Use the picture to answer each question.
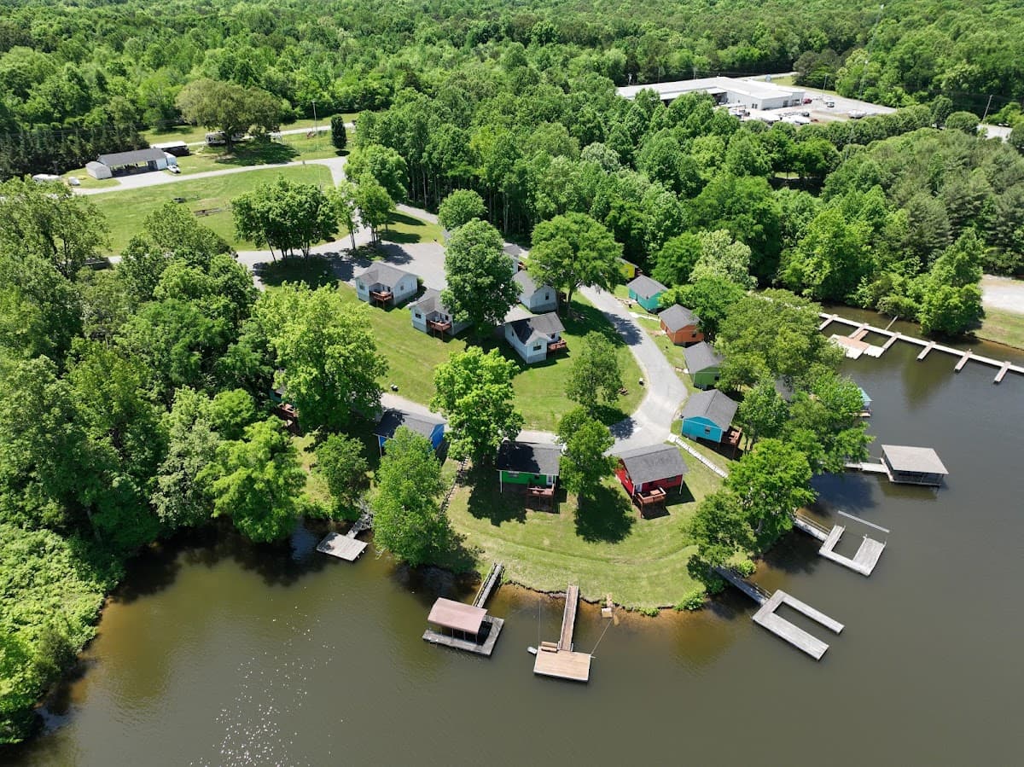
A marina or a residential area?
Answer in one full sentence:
What you see here is a marina.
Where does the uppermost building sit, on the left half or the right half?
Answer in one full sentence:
The uppermost building appears in the right half of the scene.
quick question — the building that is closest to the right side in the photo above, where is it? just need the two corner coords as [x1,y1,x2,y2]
[879,444,948,489]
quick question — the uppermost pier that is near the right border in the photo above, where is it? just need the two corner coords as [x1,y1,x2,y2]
[741,290,1024,386]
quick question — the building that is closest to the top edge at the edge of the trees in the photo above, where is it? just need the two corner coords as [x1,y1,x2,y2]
[624,79,814,112]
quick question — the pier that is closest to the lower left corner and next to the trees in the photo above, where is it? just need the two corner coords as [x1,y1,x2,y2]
[317,504,373,562]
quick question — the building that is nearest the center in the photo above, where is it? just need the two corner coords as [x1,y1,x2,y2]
[494,313,566,364]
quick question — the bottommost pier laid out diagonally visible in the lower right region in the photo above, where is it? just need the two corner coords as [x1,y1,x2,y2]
[719,564,844,660]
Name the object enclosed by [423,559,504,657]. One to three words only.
pier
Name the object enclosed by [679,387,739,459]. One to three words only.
building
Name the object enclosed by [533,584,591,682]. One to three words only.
pier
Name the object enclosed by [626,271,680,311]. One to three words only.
building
